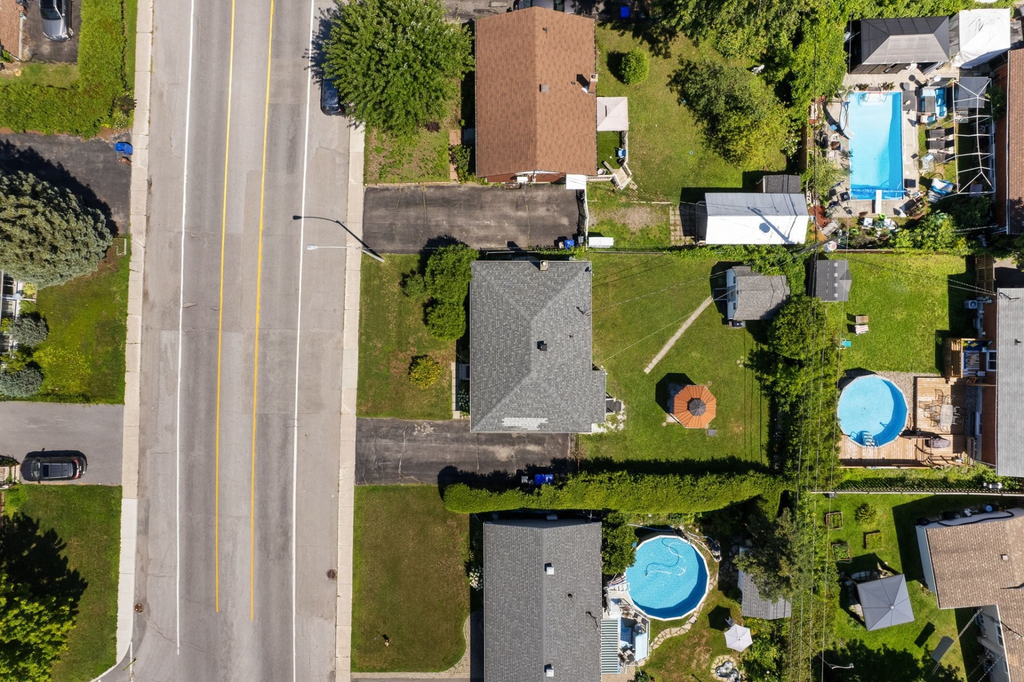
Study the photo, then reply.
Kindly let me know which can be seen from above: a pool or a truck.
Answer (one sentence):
Looking from above, you can make out a pool.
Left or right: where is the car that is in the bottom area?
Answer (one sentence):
The car that is in the bottom area appears in the left half of the scene.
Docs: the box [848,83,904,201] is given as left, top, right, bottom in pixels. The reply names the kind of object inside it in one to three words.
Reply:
swimming pool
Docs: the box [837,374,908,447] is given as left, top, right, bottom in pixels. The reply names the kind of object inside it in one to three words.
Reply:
swimming pool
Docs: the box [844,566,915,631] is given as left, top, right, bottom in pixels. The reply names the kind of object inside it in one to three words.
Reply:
gazebo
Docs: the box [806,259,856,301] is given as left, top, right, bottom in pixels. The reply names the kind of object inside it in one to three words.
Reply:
shed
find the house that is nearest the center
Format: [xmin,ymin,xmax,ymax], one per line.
[469,260,607,433]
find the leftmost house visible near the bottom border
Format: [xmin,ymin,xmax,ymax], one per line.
[483,517,602,682]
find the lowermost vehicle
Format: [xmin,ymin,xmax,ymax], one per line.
[21,453,89,485]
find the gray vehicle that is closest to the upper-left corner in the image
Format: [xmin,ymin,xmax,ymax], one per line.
[36,0,74,43]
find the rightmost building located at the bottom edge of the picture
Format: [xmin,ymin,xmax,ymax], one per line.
[915,506,1024,682]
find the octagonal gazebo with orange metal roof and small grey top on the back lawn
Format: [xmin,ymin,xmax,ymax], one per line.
[667,385,716,429]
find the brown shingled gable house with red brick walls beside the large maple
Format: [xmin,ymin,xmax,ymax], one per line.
[474,9,601,180]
